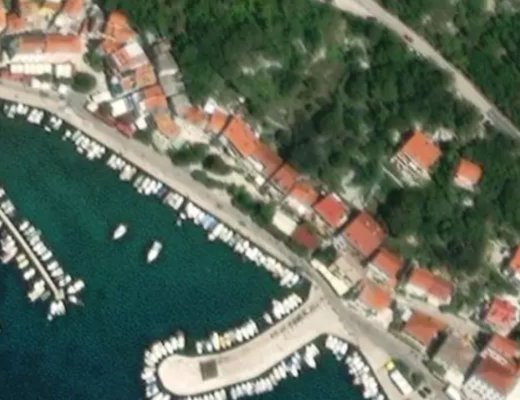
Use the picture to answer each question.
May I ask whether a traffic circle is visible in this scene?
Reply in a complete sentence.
No, the picture doesn't show any traffic circle.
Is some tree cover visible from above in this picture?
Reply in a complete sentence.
Yes, there is tree cover in the image.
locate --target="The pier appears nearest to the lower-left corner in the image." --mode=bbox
[0,207,64,300]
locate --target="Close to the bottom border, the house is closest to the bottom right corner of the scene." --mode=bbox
[479,357,520,399]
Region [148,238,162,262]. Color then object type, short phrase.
white boat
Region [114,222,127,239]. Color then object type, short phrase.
white boat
